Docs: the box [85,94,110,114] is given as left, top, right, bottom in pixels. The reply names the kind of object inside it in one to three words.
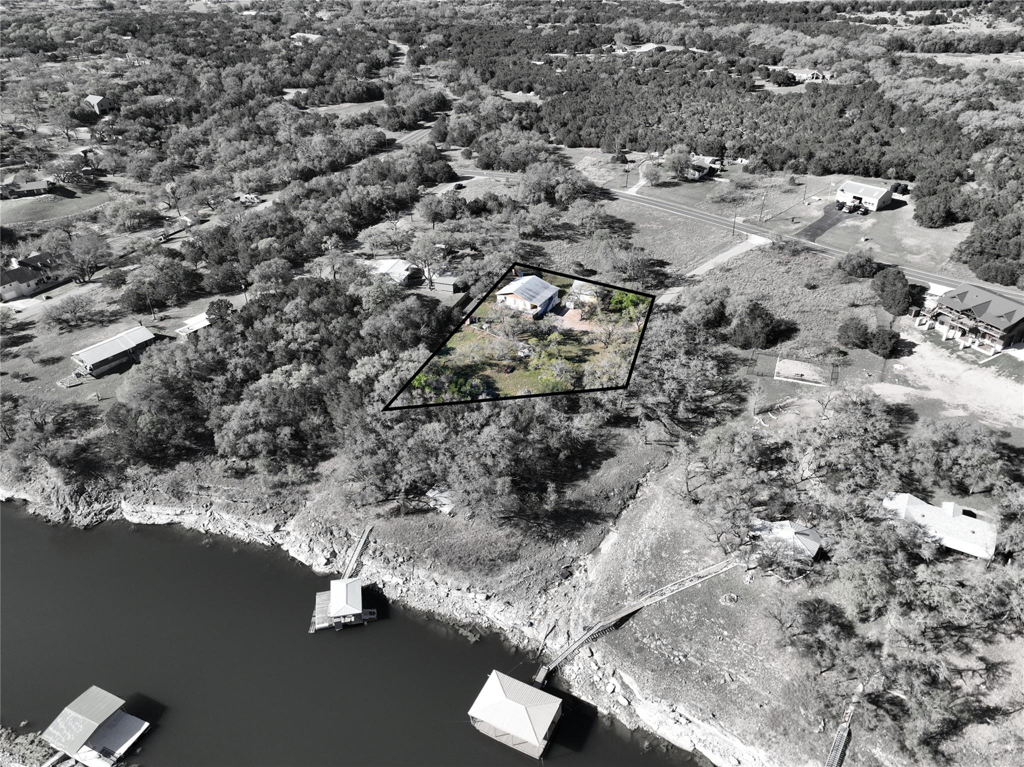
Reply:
barn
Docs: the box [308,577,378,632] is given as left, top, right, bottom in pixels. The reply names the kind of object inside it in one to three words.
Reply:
building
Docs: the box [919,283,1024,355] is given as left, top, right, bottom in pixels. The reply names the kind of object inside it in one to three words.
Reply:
building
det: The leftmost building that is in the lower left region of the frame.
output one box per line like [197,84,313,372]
[40,690,154,767]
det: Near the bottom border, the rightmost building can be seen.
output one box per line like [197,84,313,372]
[467,670,560,764]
